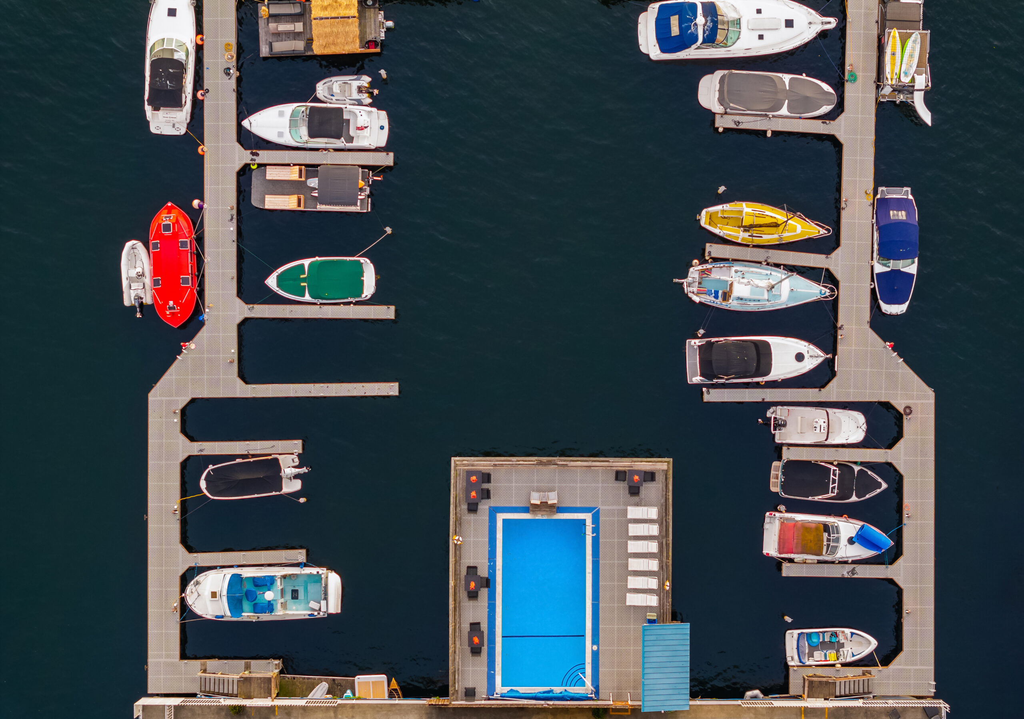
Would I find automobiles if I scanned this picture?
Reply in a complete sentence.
No, no automobile is visible in the scene.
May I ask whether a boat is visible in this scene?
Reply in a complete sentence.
Yes, there's a boat down there.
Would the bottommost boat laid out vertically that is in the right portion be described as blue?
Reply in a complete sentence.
Yes, the bottommost boat laid out vertically that is in the right portion is indeed blue.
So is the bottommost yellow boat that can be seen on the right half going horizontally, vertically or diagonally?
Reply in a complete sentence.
The bottommost yellow boat that can be seen on the right half runs horizontally in the image.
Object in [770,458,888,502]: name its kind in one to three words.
boat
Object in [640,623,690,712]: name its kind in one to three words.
shed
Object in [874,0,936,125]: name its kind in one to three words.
vessel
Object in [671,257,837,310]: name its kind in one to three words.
boat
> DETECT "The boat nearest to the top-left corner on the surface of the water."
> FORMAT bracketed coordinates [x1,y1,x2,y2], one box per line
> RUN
[144,0,200,135]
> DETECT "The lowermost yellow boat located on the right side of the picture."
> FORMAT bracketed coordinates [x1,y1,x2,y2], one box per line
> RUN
[693,197,832,245]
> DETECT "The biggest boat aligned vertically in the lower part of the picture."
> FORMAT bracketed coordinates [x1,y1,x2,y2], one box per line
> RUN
[325,571,342,613]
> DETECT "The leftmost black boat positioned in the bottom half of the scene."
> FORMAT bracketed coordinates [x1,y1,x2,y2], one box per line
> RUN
[200,454,311,499]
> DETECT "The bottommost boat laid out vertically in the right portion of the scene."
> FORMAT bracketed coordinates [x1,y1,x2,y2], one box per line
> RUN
[871,187,919,315]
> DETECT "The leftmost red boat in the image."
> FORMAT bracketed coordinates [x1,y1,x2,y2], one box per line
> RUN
[149,201,199,328]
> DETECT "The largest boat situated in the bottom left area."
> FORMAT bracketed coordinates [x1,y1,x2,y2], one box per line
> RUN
[184,565,328,620]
